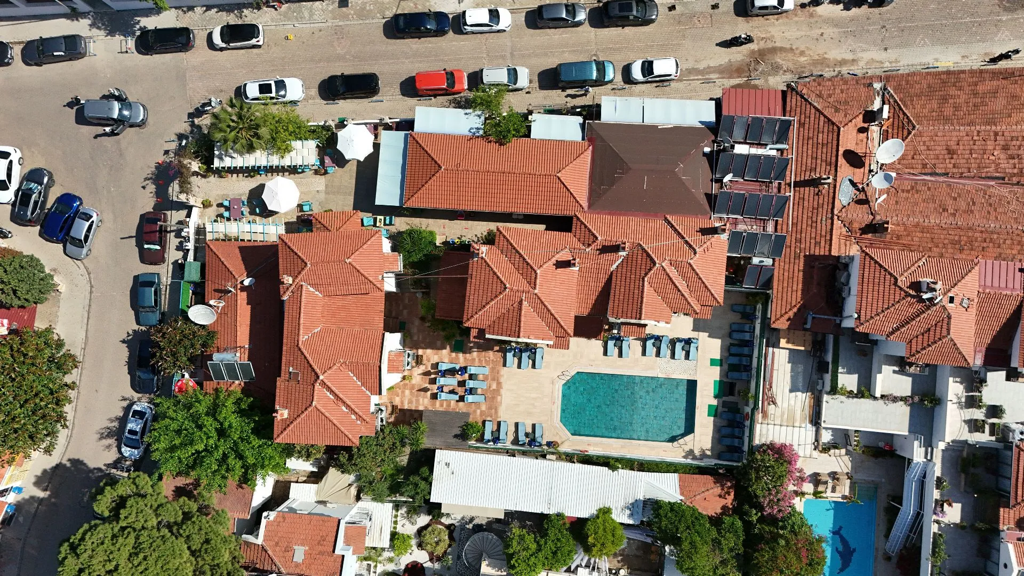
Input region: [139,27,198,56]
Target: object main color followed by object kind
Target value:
black car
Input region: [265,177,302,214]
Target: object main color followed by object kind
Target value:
white umbrella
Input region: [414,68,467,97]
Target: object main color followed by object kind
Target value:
red car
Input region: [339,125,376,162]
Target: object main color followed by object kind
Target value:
white umbrella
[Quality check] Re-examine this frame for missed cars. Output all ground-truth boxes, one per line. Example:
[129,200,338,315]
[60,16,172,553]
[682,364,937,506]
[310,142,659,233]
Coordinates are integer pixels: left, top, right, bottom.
[557,57,614,89]
[140,213,173,263]
[121,402,157,458]
[135,274,166,325]
[628,56,680,85]
[40,192,87,244]
[744,0,792,20]
[461,6,510,37]
[132,341,163,392]
[25,36,91,68]
[477,65,528,93]
[536,1,585,32]
[66,208,106,260]
[241,76,306,106]
[0,147,26,205]
[12,168,58,226]
[325,71,380,100]
[79,88,150,139]
[395,10,450,42]
[414,68,467,97]
[601,0,657,30]
[213,23,266,52]
[139,27,198,56]
[0,43,20,68]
